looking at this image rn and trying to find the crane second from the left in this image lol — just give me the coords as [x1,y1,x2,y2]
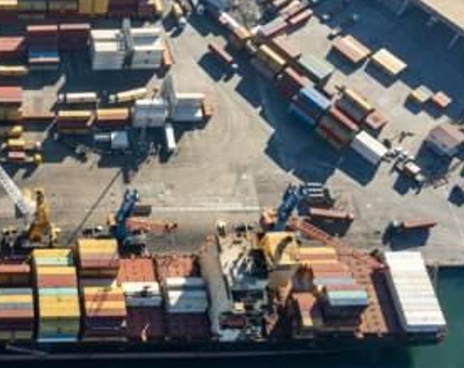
[94,187,180,259]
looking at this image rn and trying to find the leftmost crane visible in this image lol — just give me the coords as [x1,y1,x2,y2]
[0,155,67,265]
